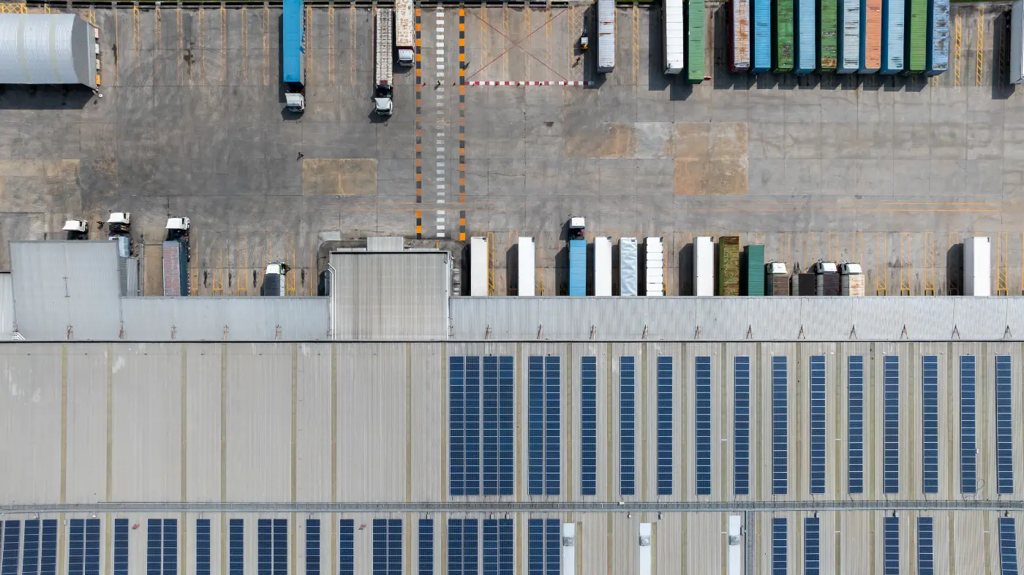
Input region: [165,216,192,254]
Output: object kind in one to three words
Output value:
truck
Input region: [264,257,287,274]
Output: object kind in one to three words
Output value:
vehicle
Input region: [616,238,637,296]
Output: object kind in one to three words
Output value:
trailer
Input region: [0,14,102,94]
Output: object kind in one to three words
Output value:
building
